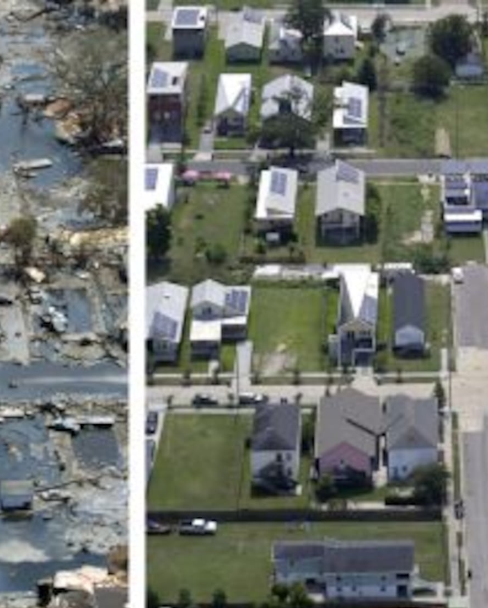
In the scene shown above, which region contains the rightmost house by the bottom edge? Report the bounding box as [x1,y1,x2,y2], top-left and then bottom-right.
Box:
[277,535,414,596]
